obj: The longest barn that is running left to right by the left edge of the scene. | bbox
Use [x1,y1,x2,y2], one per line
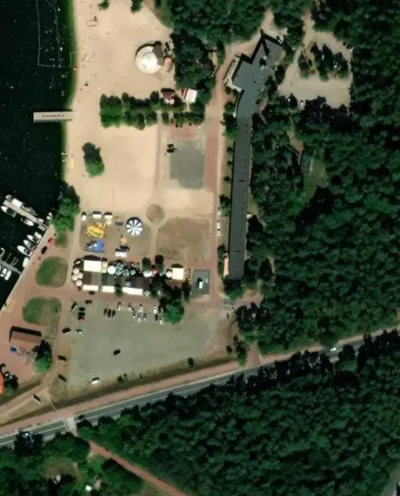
[9,330,42,350]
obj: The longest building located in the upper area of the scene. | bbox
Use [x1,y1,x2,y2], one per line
[227,38,282,280]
